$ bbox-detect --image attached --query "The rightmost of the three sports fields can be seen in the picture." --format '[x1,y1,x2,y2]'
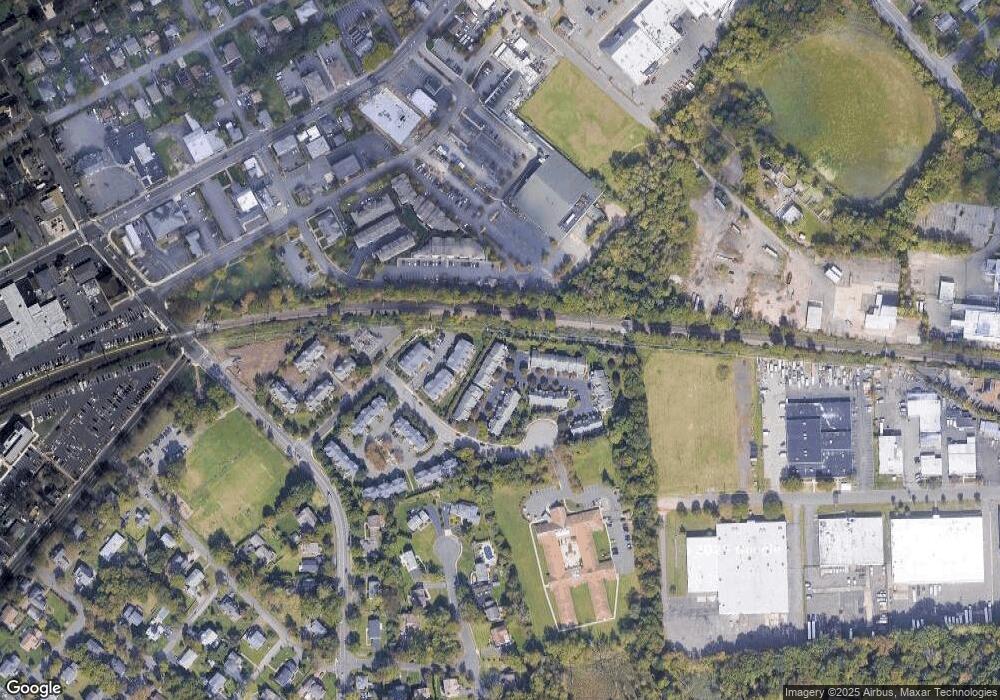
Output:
[738,32,938,198]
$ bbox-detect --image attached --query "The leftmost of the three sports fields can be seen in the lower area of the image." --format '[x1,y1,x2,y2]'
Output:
[181,408,292,540]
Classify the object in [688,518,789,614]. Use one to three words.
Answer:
building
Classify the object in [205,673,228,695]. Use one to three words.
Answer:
house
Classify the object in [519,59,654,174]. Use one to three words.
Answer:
sports field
